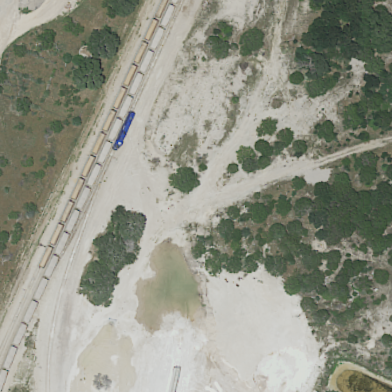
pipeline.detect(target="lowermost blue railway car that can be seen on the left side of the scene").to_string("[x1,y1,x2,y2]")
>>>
[113,131,126,150]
